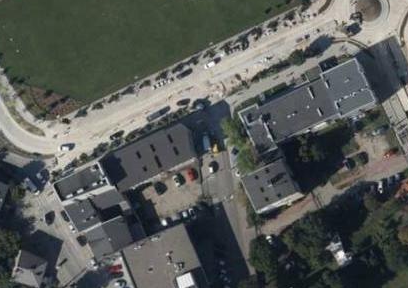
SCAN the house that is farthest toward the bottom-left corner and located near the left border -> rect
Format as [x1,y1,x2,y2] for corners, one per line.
[10,247,48,288]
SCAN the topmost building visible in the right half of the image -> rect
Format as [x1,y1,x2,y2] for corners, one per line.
[235,59,376,156]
